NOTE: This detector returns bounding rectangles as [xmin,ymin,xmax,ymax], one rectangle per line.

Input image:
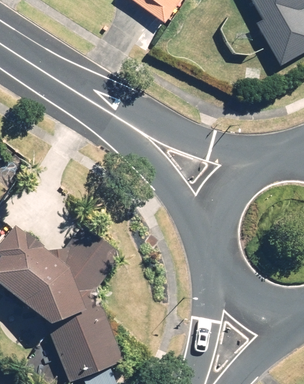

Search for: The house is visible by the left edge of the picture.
[0,226,122,382]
